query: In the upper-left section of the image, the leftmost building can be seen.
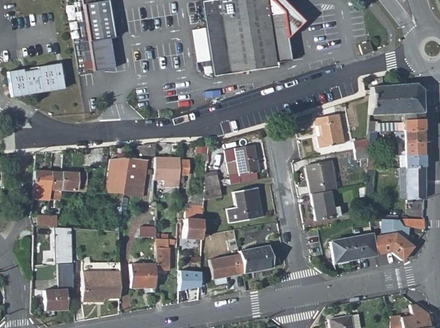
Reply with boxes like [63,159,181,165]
[2,64,65,98]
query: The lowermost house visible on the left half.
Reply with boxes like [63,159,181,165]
[42,288,70,312]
